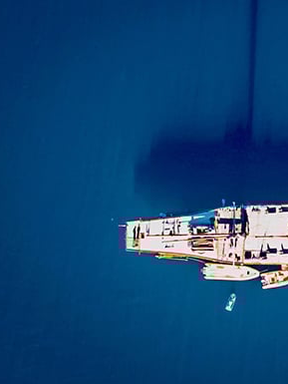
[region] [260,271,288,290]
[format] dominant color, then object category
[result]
white boat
